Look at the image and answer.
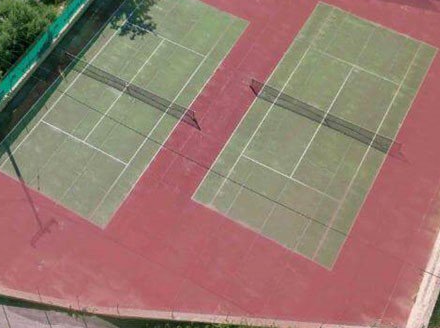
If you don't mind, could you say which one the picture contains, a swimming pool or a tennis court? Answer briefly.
tennis court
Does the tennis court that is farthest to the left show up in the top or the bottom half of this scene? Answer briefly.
top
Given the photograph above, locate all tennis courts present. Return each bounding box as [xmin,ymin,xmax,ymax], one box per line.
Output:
[0,0,249,228]
[193,2,438,269]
